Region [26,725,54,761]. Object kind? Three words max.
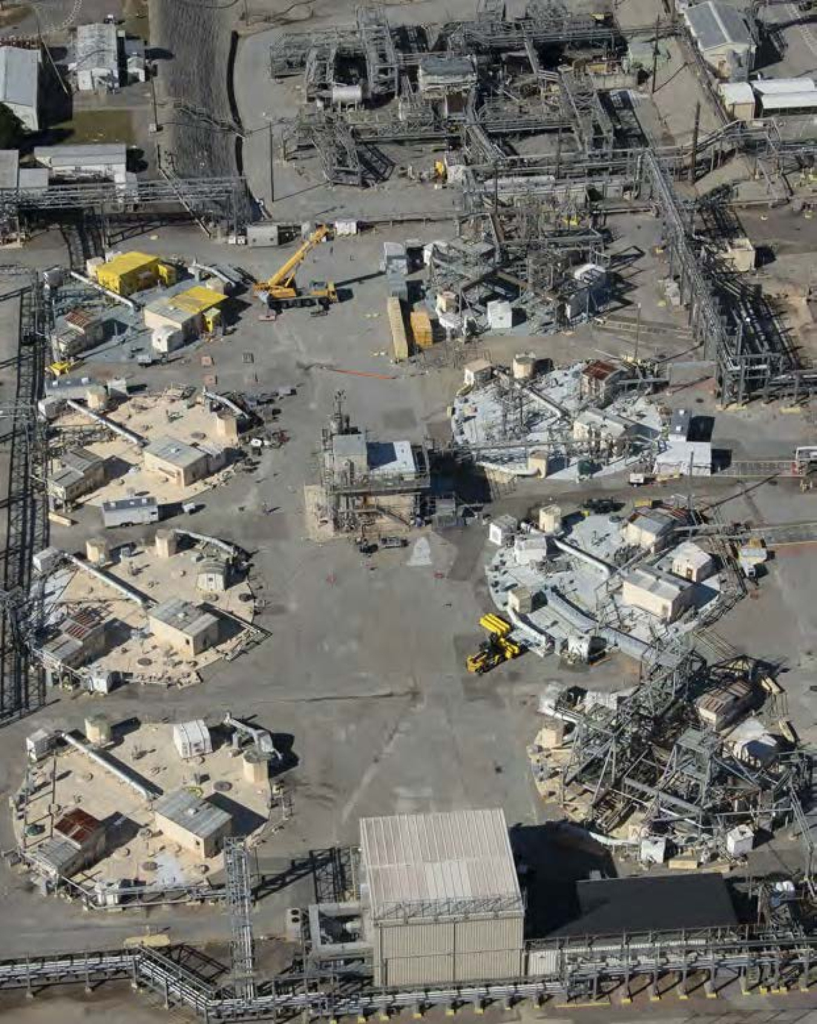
house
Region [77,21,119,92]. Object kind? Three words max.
barn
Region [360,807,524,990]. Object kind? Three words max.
building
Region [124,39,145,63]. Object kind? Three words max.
shed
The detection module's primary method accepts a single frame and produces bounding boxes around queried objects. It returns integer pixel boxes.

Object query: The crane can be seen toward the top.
[254,223,339,312]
